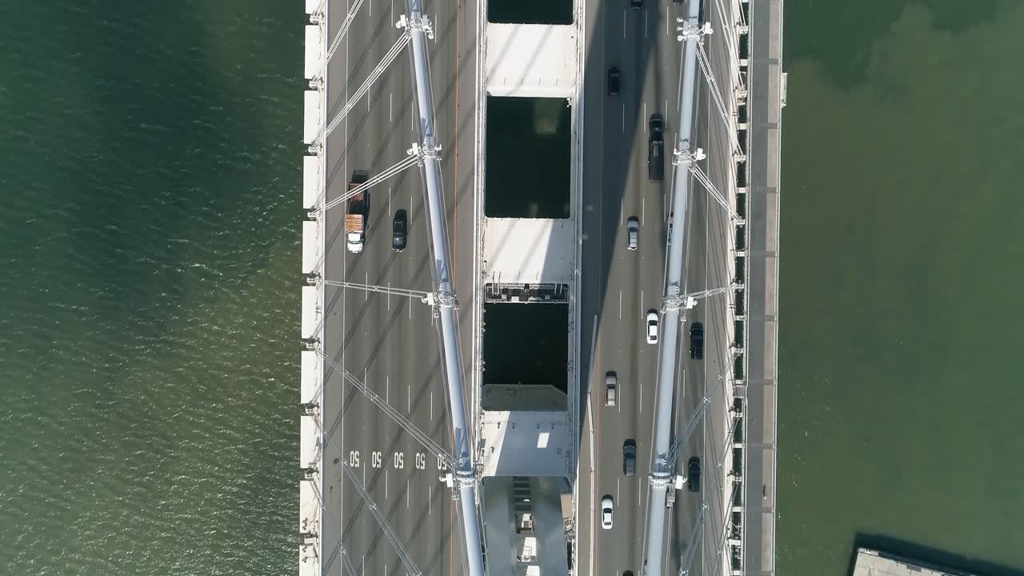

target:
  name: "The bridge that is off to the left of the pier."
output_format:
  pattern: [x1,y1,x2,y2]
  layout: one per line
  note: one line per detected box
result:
[300,0,791,576]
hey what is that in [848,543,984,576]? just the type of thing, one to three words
pier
